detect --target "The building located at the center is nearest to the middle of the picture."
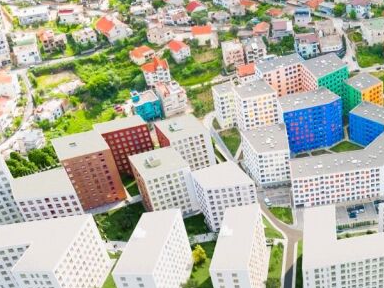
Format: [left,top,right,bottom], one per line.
[154,114,212,175]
